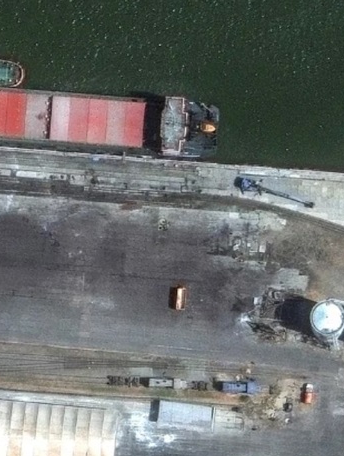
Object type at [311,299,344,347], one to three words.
silo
